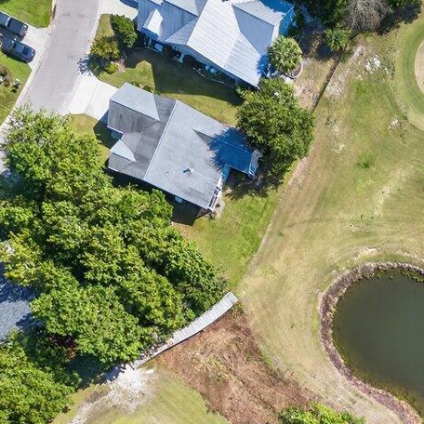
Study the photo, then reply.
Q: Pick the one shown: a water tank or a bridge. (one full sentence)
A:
I can see a bridge in this picture.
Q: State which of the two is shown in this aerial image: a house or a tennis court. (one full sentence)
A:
I can see a house in this picture.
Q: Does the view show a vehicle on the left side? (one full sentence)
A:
Yes, a vehicle appears on the left side.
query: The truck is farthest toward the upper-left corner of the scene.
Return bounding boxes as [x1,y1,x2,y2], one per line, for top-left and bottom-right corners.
[0,10,33,43]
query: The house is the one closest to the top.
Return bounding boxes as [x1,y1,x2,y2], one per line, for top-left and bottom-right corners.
[138,0,296,90]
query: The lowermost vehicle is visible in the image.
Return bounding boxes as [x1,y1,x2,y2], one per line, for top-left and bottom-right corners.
[0,36,40,65]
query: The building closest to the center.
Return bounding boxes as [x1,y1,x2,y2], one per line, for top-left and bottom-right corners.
[108,82,255,211]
